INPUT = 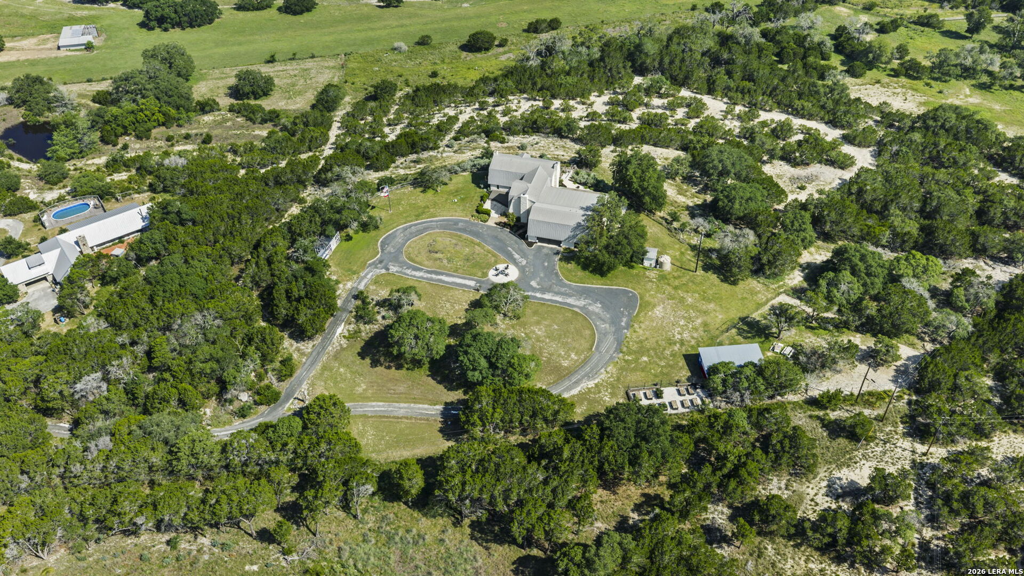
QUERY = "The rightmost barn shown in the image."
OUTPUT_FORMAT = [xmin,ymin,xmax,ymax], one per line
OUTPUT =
[697,342,768,383]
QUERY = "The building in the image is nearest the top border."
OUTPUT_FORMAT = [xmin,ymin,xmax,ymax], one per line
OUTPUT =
[58,24,101,50]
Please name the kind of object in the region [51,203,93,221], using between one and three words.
swimming pool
